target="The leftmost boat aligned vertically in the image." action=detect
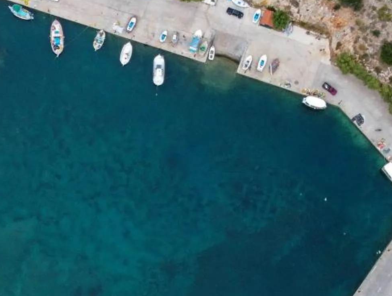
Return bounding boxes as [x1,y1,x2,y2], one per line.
[50,19,64,58]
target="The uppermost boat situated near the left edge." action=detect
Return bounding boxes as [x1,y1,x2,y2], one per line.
[7,5,35,20]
